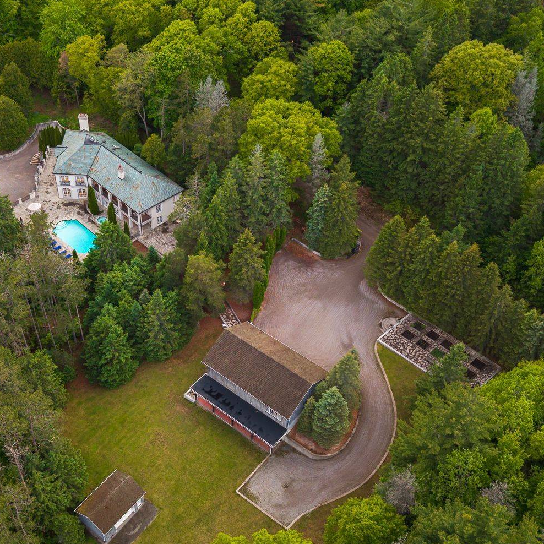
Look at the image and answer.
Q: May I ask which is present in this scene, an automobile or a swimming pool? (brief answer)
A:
swimming pool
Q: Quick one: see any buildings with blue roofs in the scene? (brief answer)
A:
No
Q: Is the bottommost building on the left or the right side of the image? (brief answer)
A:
left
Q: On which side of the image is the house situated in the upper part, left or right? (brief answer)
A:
left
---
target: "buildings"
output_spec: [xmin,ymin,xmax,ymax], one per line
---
[53,111,184,238]
[187,323,331,455]
[74,470,146,543]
